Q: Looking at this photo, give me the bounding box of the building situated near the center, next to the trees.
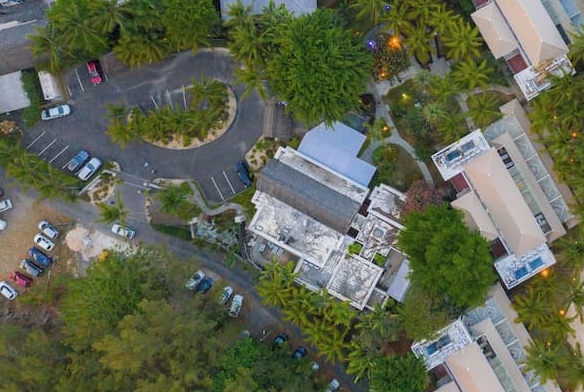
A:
[248,121,418,310]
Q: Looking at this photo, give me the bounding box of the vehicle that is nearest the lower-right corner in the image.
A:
[321,378,341,392]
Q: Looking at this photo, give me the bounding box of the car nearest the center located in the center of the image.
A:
[232,159,251,187]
